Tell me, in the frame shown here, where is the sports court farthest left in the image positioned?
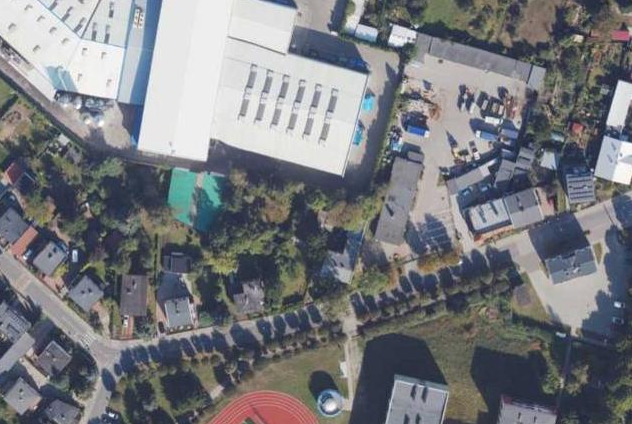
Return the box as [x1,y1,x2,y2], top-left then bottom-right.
[167,169,195,226]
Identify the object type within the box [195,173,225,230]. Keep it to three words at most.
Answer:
sports court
